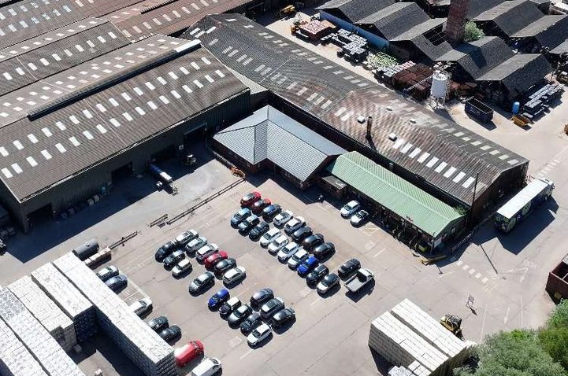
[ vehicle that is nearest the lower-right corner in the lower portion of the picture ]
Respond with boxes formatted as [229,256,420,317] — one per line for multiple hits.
[439,308,468,343]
